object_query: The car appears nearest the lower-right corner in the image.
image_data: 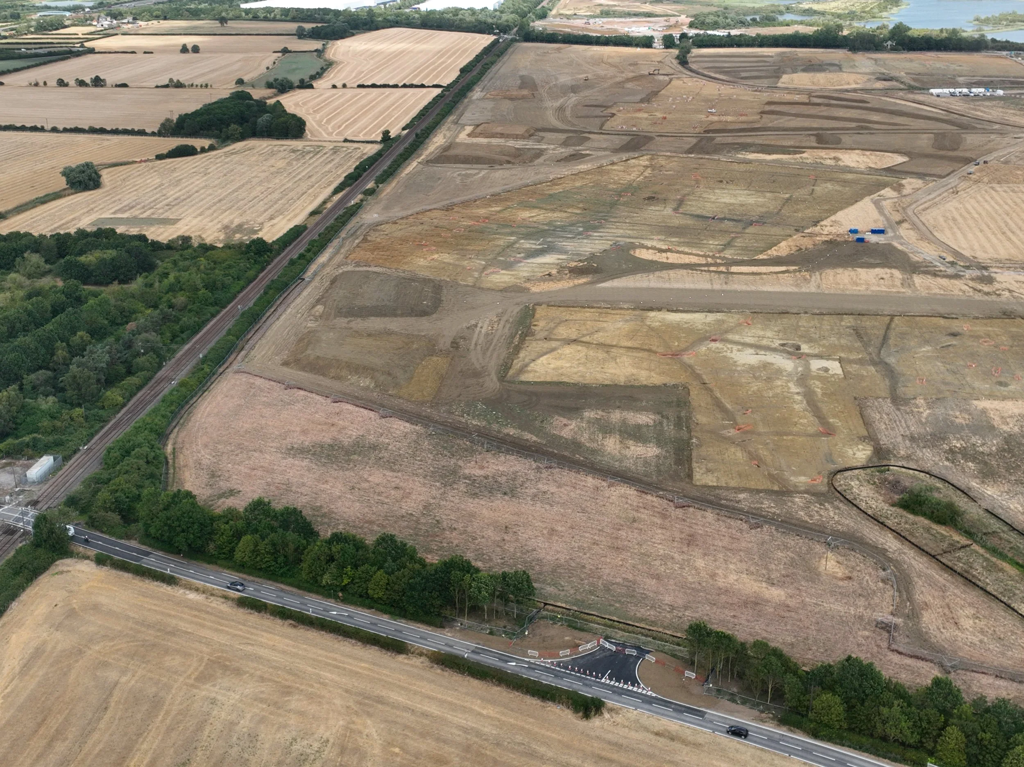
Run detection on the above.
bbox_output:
[726,725,750,741]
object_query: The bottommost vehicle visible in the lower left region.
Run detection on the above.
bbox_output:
[225,579,246,592]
